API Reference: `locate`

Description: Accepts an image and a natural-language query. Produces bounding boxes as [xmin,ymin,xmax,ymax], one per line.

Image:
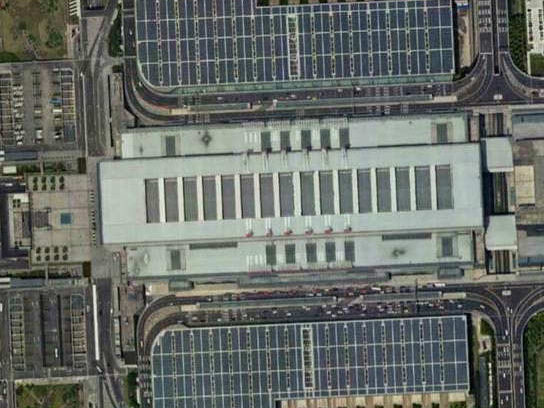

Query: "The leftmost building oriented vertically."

[10,191,29,248]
